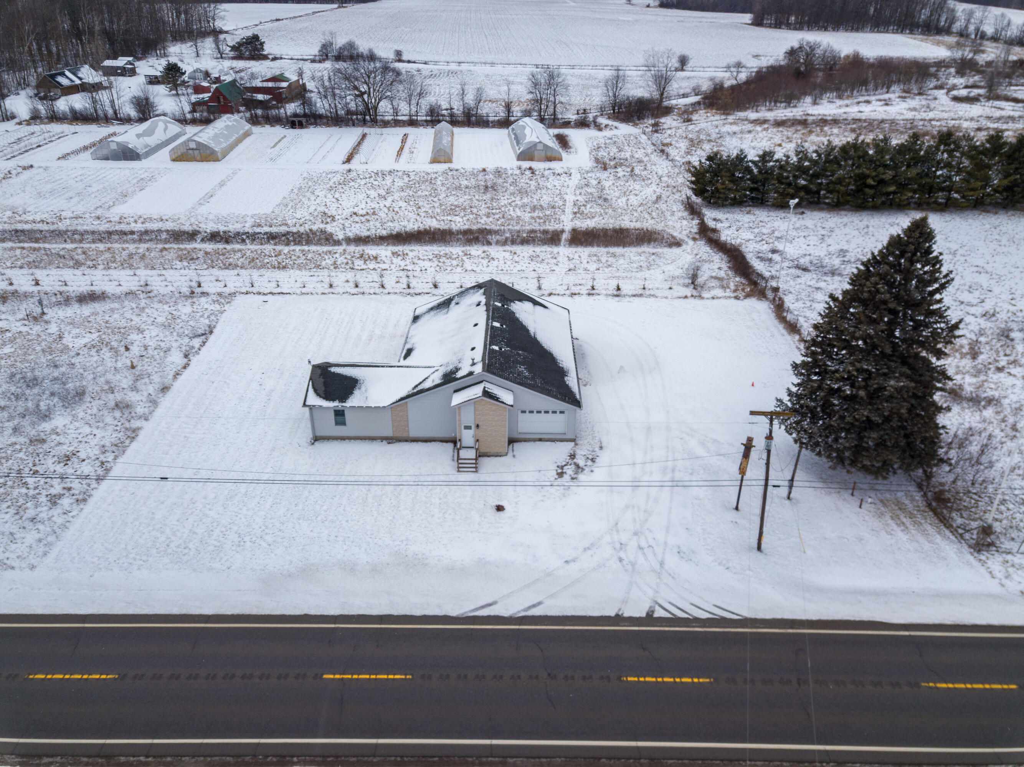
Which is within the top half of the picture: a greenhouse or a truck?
greenhouse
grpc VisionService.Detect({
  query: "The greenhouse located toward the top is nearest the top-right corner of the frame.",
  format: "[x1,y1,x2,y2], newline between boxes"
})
[511,113,563,161]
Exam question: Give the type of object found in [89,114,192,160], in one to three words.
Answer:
greenhouse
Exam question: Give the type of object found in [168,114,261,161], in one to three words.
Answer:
greenhouse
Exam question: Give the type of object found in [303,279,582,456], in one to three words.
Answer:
house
